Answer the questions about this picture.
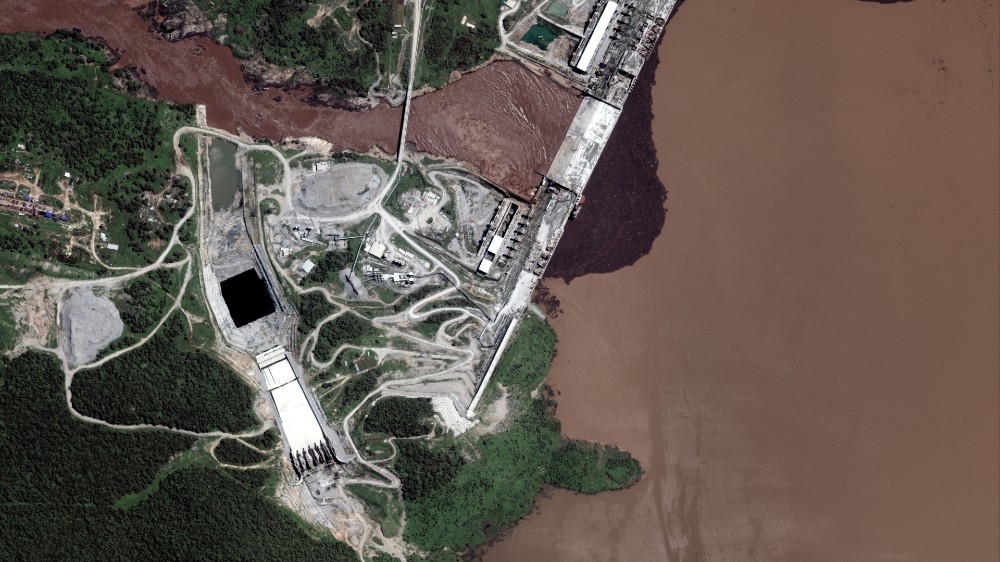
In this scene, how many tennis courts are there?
0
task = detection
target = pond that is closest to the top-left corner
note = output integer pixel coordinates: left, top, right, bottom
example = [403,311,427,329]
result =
[208,138,242,210]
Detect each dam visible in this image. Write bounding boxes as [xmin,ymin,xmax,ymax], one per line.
[467,0,675,419]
